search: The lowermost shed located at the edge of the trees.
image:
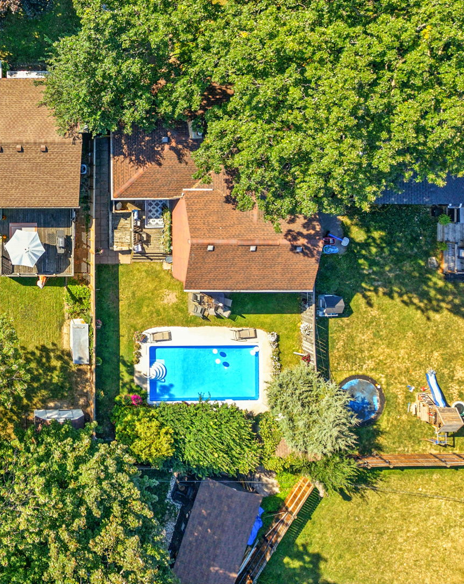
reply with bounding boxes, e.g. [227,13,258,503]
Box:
[165,464,263,584]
